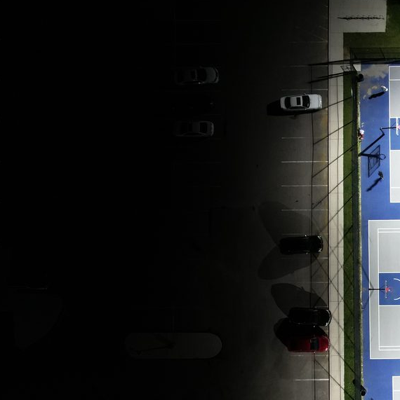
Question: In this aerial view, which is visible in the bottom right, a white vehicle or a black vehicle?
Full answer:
The one visible in the bottom right is a black vehicle.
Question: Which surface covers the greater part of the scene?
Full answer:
For the most part, this view shows paved ground.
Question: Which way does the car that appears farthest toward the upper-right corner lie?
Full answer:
The car that appears farthest toward the upper-right corner has been laid out horizontally relative to the frame.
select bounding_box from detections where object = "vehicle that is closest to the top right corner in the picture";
[279,93,324,114]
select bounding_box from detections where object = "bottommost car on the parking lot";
[287,333,331,354]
